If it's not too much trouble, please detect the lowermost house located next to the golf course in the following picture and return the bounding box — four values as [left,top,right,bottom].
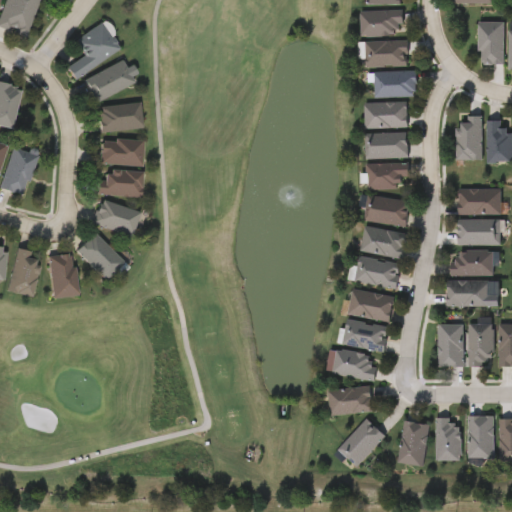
[335,419,386,466]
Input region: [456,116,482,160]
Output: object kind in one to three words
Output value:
house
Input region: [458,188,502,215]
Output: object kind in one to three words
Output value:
house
